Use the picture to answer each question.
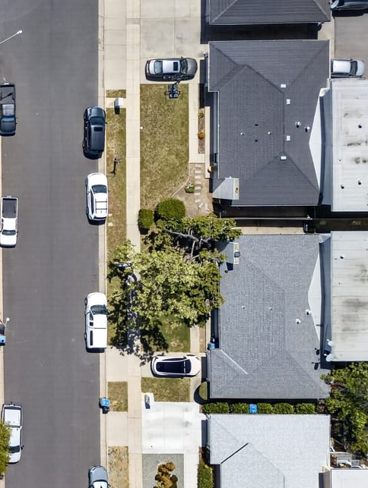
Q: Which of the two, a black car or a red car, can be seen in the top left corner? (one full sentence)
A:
What appears in the top left corner is a black car.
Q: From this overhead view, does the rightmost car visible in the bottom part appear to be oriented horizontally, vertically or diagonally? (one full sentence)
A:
From this overhead view, the rightmost car visible in the bottom part appears to run horizontally.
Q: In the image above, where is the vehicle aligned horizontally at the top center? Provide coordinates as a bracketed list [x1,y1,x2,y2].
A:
[142,57,196,81]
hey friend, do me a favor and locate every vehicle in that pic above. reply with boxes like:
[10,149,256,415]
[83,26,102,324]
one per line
[331,0,367,12]
[82,107,107,157]
[0,195,19,247]
[84,173,109,221]
[83,292,107,350]
[142,57,196,81]
[0,401,25,462]
[0,82,19,135]
[330,56,363,78]
[148,355,199,380]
